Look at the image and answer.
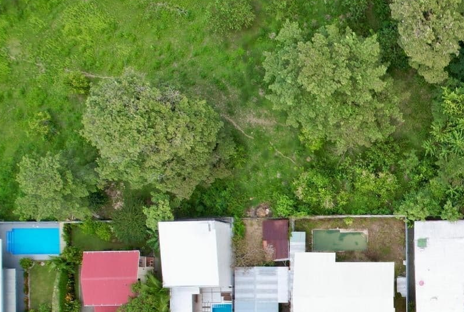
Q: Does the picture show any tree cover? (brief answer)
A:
Yes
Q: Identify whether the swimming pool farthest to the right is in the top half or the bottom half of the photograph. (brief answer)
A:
bottom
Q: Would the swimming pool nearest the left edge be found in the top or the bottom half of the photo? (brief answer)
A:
bottom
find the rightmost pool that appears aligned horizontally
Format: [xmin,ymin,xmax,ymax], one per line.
[311,228,369,253]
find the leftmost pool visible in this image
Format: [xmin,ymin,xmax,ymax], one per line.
[5,226,61,256]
